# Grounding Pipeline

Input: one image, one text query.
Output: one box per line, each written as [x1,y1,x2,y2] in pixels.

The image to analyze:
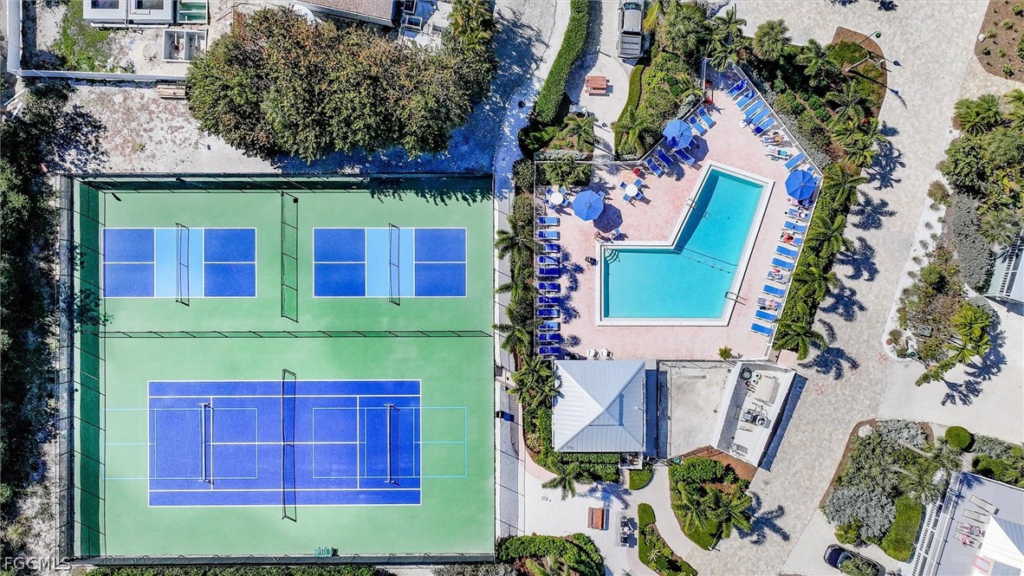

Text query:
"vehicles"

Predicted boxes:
[824,540,882,576]
[619,0,647,57]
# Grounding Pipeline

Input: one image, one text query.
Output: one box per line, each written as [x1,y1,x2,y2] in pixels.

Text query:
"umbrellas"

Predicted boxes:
[572,190,604,221]
[784,170,815,201]
[661,120,693,151]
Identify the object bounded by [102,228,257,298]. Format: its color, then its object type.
blue sports court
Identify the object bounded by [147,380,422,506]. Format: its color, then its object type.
blue tennis court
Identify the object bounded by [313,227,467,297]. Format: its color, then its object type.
blue sports court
